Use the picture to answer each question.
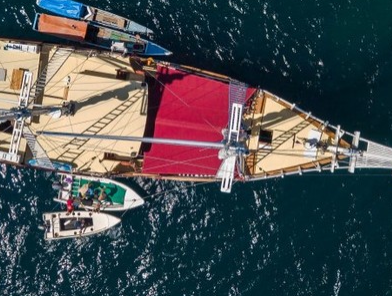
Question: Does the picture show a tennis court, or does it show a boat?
boat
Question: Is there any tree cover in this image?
No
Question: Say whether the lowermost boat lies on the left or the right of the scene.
left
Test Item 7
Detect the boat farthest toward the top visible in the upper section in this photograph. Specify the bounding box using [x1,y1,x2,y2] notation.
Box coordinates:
[35,0,155,34]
